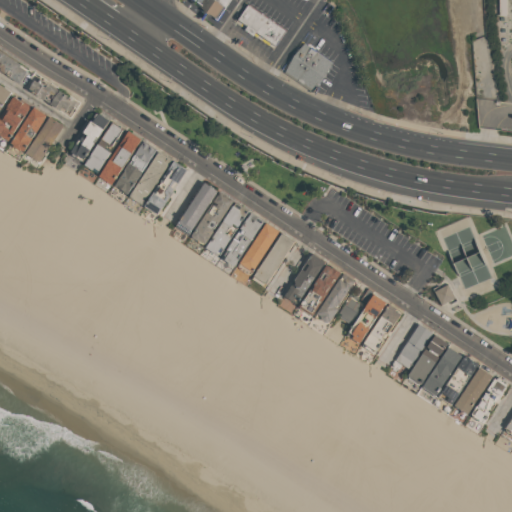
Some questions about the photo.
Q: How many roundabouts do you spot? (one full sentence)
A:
There are no roundabouts in the image.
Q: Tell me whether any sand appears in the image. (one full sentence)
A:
Yes, there is sand in the image.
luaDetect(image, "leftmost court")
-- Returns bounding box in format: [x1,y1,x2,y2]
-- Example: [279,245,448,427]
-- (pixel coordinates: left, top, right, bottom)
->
[444,228,491,288]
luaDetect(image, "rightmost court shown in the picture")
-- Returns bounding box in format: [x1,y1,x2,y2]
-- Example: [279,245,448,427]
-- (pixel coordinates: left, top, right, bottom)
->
[484,228,512,262]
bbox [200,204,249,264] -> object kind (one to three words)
house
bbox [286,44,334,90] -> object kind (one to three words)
building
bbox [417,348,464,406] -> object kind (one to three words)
house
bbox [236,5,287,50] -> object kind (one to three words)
building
